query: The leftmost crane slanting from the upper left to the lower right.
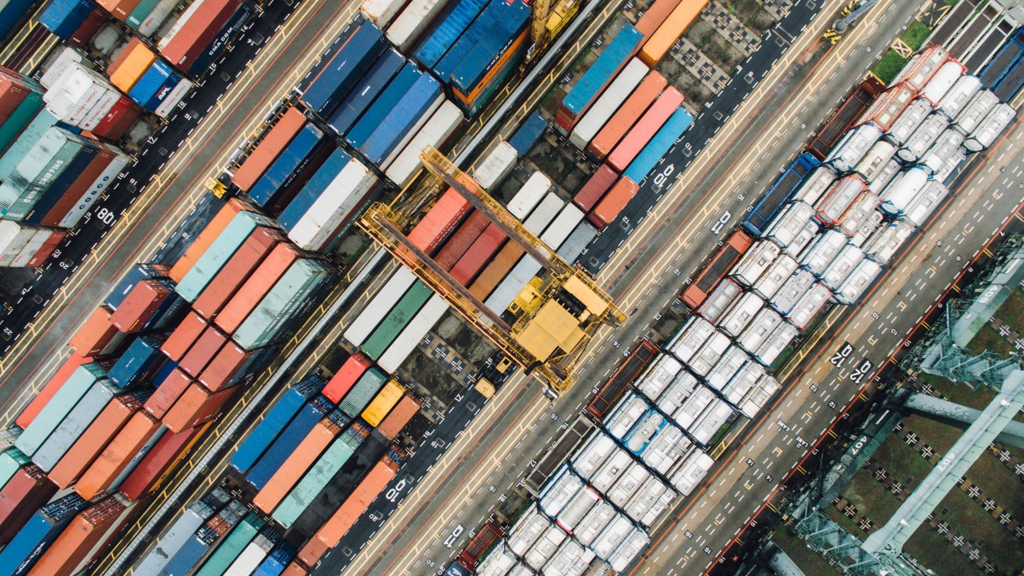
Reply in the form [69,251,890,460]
[355,138,636,400]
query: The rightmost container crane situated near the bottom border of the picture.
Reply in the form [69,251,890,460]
[767,376,1024,576]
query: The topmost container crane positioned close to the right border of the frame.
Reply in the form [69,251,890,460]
[898,214,1024,394]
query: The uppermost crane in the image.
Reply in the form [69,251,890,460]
[515,0,582,75]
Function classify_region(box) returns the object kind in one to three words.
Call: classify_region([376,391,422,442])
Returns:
shipping container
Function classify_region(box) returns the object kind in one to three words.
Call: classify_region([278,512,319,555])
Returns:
shipping container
